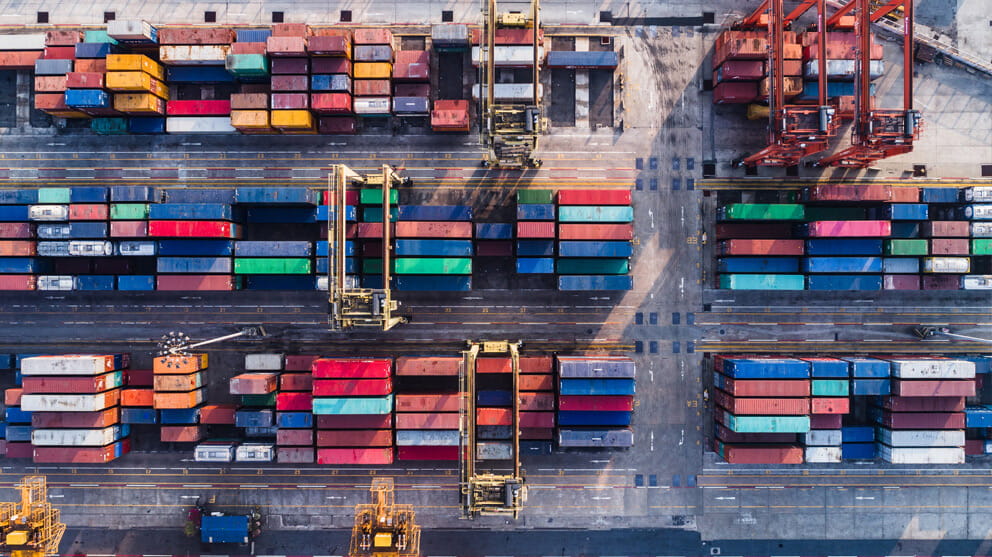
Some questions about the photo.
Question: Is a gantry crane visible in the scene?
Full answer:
Yes, this view includes a gantry crane.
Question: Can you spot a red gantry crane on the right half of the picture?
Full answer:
Yes, I can see a red gantry crane on the right half of the picture.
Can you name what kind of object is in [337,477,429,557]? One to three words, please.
container crane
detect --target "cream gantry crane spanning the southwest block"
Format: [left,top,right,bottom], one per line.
[452,342,531,530]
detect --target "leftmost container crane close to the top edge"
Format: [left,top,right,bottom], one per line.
[473,0,549,165]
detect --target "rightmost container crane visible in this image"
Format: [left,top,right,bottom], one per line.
[792,0,920,165]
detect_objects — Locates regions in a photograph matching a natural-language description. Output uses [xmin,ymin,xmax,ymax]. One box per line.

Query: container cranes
[0,476,80,557]
[452,342,531,530]
[473,0,549,165]
[720,0,833,165]
[324,158,420,339]
[337,477,429,557]
[792,0,920,165]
